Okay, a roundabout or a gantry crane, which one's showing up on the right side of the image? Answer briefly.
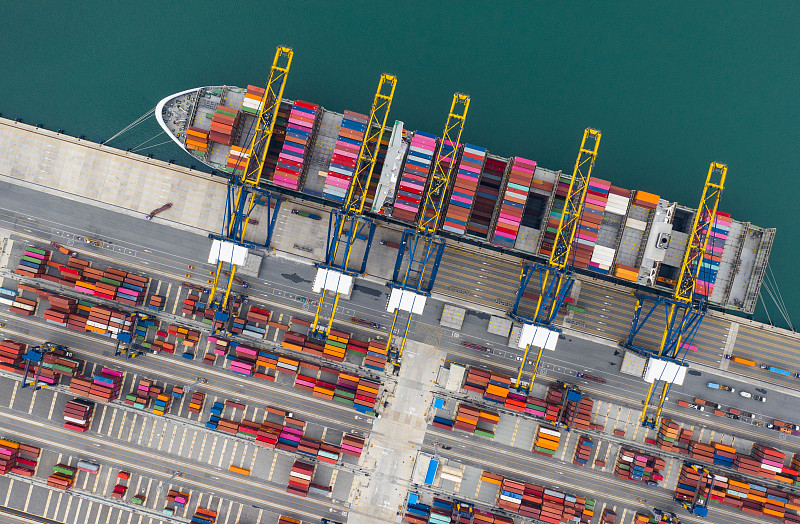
gantry crane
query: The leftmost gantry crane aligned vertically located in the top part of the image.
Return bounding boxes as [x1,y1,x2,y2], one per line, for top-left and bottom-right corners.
[204,41,297,316]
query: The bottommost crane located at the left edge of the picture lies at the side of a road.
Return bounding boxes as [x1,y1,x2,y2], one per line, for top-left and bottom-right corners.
[18,340,59,387]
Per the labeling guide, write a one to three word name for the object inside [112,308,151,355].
crane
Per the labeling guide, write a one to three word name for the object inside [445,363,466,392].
shed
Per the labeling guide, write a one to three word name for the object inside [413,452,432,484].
shed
